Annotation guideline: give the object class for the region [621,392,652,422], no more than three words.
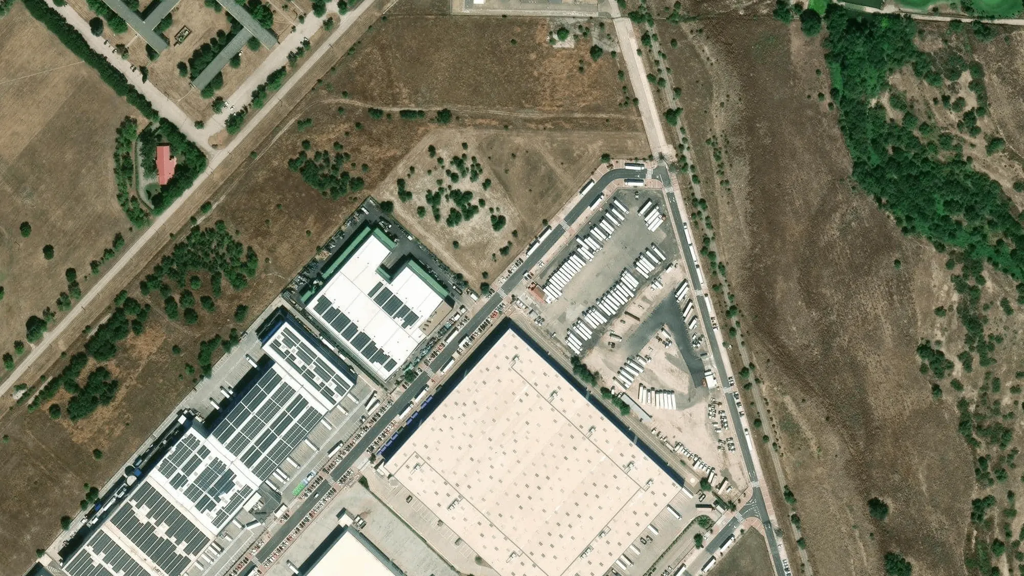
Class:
shed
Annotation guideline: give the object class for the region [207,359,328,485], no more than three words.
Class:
warehouse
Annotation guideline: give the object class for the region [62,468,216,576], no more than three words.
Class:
building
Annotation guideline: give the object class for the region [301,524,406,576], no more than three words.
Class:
building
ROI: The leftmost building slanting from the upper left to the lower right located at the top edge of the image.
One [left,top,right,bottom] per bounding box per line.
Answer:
[104,0,169,53]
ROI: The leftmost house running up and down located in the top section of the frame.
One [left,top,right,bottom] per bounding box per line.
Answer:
[156,143,176,186]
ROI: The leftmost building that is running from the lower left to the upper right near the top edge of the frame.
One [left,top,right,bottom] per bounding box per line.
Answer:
[145,0,182,30]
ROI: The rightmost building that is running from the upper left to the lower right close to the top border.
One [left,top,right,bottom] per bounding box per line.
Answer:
[217,0,281,50]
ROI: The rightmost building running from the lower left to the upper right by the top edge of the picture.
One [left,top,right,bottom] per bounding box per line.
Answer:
[192,26,252,90]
